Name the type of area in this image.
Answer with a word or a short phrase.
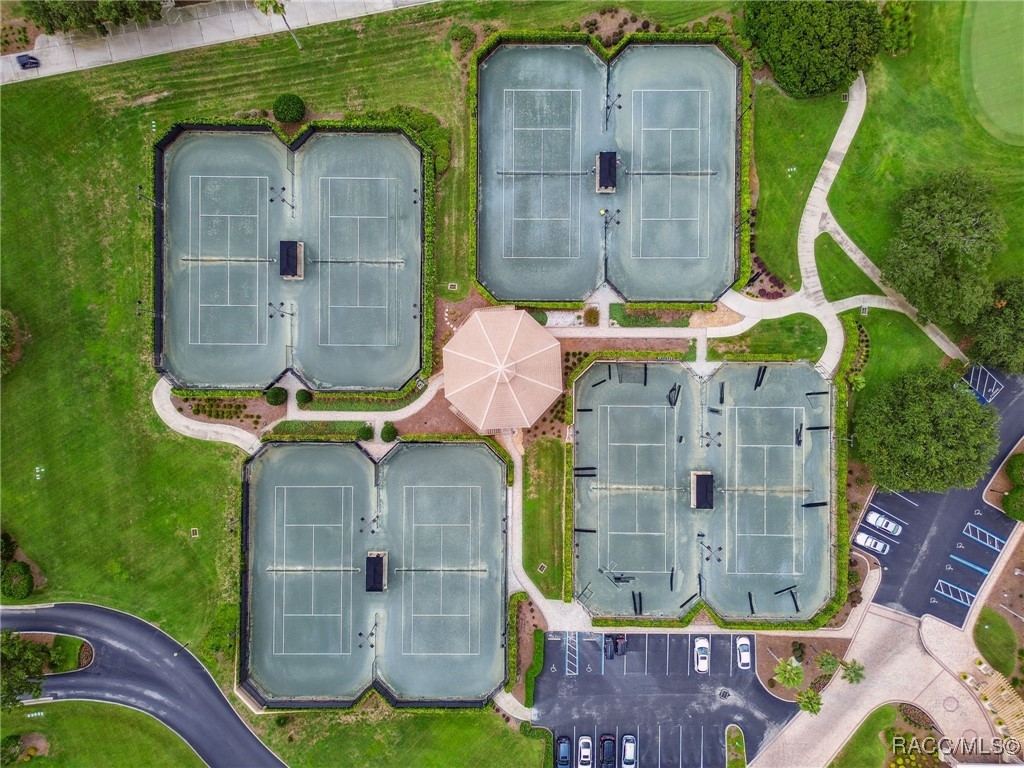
sports ground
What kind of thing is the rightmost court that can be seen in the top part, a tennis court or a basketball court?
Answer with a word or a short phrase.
tennis court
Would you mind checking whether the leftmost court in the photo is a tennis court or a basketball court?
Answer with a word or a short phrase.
tennis court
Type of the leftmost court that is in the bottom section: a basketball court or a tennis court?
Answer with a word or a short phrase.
tennis court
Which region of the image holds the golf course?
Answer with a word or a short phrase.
top right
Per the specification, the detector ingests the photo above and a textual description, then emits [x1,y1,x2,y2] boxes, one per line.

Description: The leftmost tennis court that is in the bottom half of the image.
[247,445,377,699]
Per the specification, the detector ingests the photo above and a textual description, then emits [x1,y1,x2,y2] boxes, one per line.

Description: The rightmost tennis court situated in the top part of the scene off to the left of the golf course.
[607,46,735,300]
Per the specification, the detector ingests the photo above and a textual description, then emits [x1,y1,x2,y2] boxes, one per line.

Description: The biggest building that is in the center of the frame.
[443,304,563,435]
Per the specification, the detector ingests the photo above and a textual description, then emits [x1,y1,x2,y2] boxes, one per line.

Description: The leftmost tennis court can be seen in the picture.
[164,131,292,388]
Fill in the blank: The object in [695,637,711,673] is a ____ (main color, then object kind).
white car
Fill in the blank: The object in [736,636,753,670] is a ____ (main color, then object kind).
white car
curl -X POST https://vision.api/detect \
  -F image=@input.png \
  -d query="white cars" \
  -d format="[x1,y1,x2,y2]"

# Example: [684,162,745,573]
[695,637,711,673]
[736,636,753,670]
[578,736,594,768]
[623,736,638,768]
[866,509,902,536]
[855,530,890,556]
